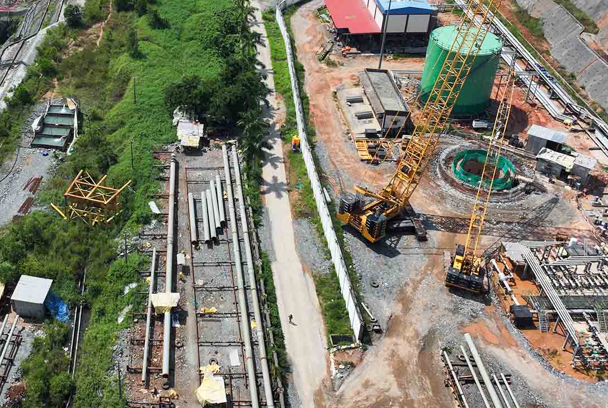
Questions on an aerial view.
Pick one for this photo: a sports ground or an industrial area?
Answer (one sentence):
The area seen from above is an industrial area.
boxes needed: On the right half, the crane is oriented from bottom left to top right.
[335,0,518,249]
